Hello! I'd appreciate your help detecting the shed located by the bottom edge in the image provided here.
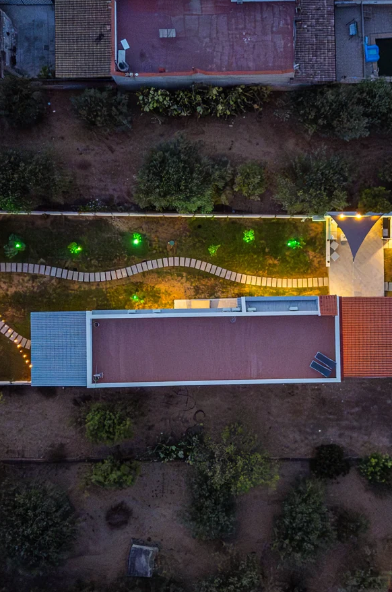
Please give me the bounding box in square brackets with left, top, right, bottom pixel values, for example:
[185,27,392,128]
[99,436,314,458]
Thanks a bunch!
[129,537,159,577]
